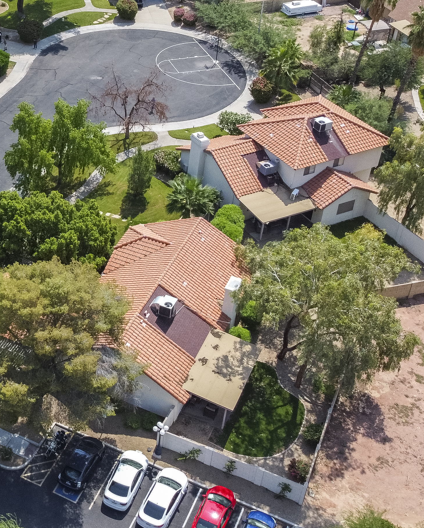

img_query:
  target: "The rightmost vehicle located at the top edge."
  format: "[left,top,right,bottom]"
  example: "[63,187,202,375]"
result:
[284,2,322,16]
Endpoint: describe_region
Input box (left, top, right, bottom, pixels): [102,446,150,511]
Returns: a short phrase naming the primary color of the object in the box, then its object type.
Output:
white car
